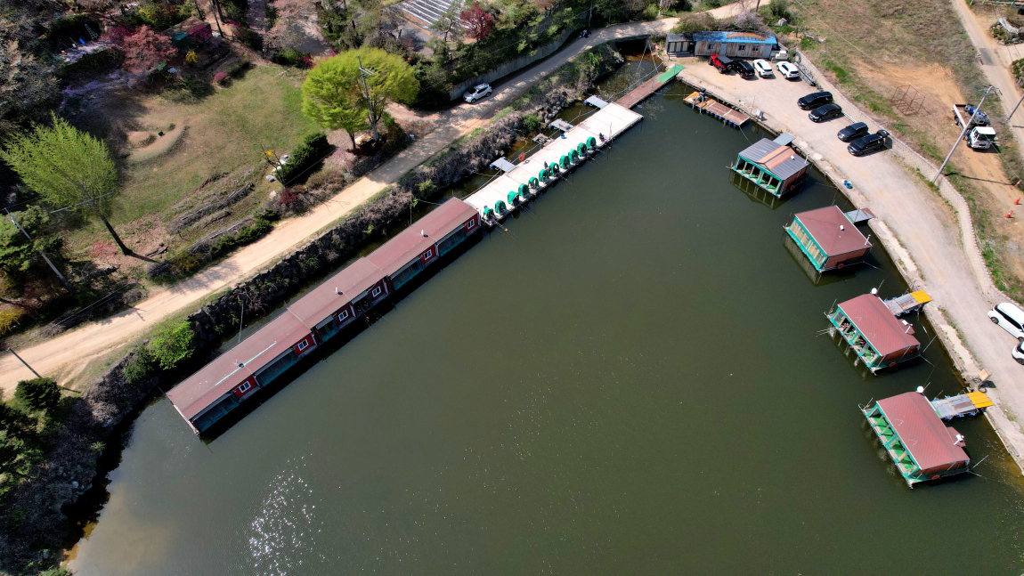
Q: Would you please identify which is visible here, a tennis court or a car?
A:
car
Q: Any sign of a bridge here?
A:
Yes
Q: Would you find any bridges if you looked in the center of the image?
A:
No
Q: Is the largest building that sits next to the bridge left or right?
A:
right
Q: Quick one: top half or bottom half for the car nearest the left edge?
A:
top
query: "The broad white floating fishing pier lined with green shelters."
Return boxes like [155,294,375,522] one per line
[464,102,643,227]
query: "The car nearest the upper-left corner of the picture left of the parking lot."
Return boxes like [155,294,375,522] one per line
[462,81,495,102]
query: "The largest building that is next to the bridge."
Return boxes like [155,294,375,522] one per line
[693,29,781,58]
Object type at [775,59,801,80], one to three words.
car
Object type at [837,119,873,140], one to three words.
car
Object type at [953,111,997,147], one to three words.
truck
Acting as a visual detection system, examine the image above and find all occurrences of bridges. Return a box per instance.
[609,20,668,54]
